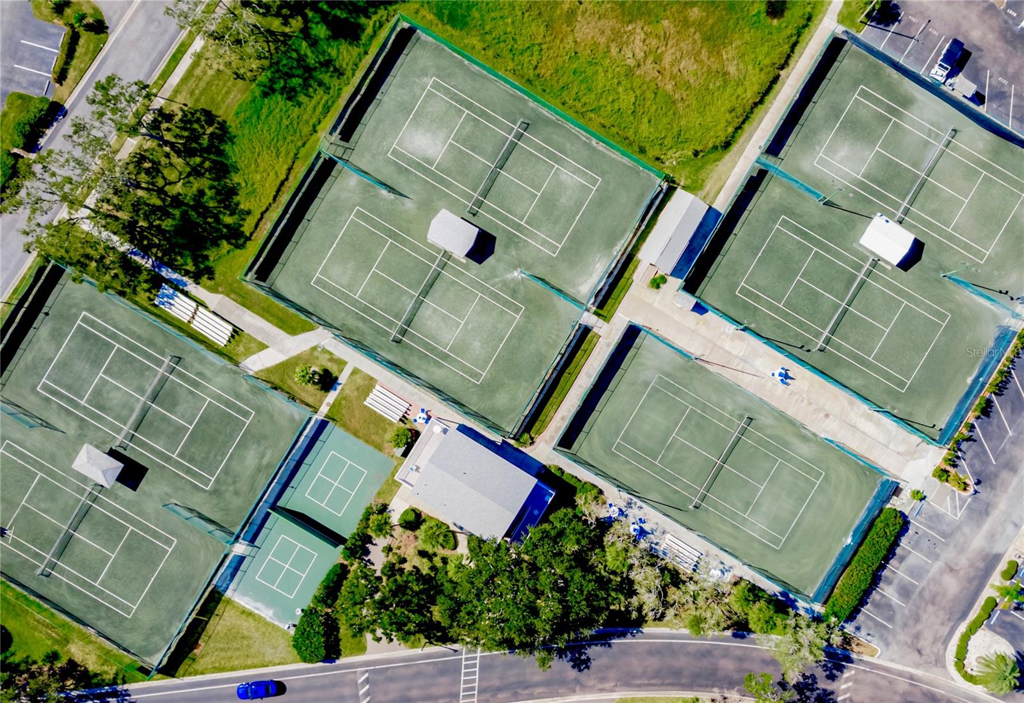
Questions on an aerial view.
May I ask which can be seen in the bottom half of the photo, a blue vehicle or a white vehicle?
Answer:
blue vehicle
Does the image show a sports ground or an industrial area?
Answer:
sports ground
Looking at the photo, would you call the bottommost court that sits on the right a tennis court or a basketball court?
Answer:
tennis court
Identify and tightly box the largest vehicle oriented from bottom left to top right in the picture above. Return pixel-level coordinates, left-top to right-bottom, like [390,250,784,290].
[930,39,964,81]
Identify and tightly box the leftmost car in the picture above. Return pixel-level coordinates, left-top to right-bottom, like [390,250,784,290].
[237,681,278,703]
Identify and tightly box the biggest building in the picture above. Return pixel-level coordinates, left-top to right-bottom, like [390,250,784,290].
[394,417,557,544]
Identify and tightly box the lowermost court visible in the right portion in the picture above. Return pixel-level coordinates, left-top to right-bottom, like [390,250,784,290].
[553,322,880,592]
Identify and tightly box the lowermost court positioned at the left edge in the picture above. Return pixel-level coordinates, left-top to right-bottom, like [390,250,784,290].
[0,405,237,669]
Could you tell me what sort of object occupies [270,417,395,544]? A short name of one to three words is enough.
sports court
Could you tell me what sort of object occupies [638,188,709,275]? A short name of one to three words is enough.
building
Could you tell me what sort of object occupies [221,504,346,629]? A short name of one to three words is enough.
sports court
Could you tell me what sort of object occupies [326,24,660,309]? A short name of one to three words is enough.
tennis court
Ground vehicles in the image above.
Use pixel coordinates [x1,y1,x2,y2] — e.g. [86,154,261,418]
[949,77,979,97]
[930,39,964,81]
[237,681,278,703]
